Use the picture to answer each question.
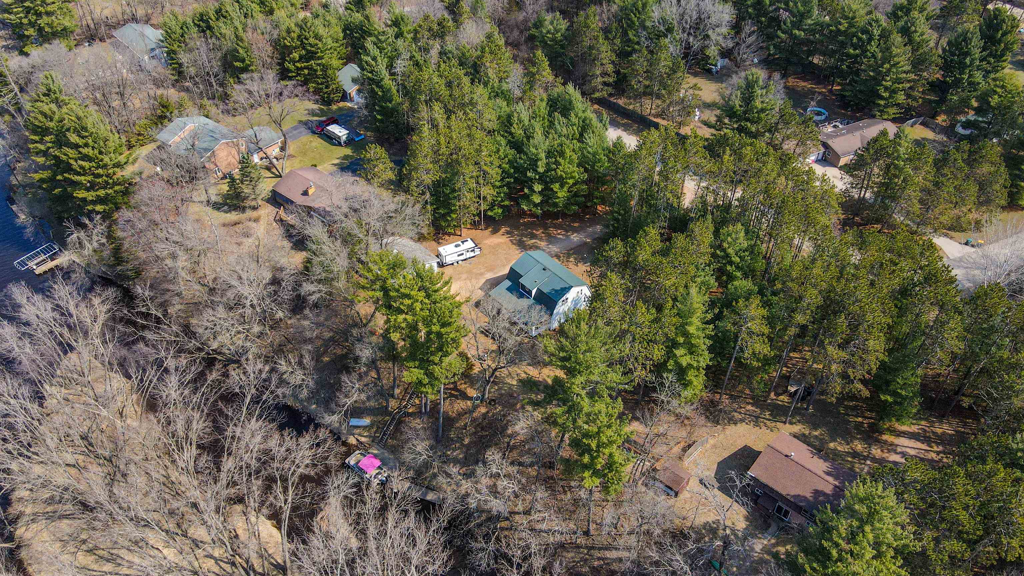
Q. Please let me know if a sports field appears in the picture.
No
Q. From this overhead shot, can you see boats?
Yes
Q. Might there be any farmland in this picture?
No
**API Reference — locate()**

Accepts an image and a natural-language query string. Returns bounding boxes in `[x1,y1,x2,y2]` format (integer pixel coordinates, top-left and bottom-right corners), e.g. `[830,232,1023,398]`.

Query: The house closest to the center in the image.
[489,250,591,336]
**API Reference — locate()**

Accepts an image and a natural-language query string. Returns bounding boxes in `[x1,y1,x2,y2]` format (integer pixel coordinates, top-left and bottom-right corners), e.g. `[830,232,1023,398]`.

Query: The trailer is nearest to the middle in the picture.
[439,239,482,266]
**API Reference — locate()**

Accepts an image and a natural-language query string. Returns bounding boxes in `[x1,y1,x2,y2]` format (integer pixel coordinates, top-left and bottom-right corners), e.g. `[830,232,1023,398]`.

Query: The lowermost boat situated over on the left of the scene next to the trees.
[347,451,388,487]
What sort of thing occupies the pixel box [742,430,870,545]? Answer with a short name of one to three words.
house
